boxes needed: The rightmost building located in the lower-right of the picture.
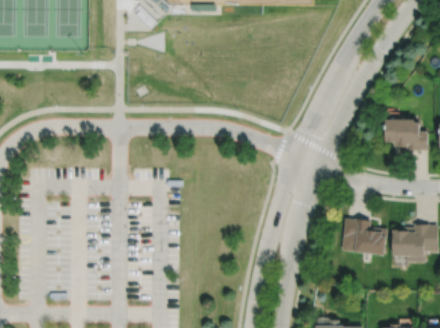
[393,225,439,264]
